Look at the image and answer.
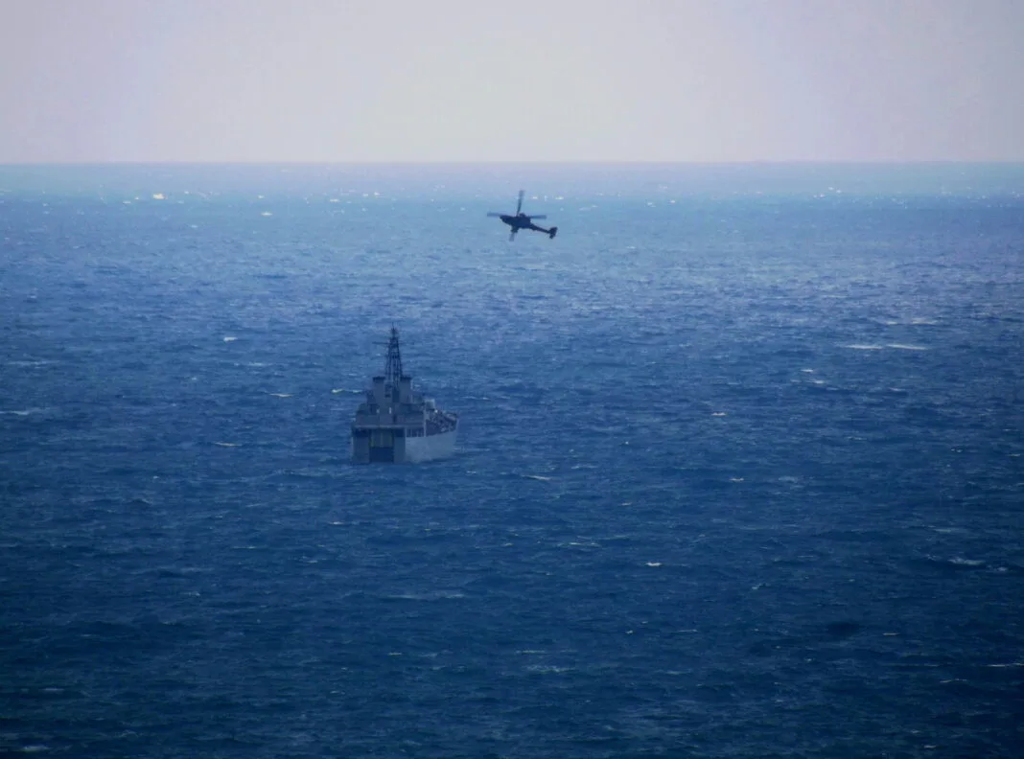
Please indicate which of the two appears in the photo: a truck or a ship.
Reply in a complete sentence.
The one in the frame is a ship.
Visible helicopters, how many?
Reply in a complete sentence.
My tally gives 1 helicopter in this photo.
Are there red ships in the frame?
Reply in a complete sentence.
No, there's no red ship here.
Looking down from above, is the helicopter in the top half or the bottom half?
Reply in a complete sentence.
You can find the helicopter in the top half.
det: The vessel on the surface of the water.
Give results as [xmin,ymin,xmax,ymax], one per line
[350,322,458,463]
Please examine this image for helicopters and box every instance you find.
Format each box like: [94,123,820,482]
[487,190,558,240]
